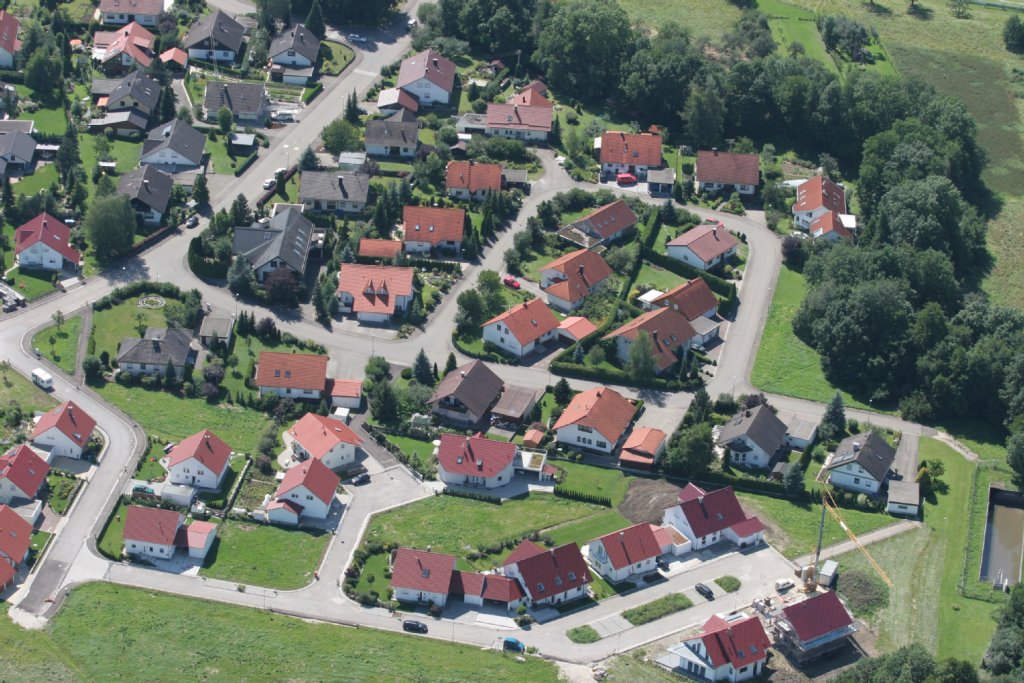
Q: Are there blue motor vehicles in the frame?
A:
Yes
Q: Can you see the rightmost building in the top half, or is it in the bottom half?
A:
bottom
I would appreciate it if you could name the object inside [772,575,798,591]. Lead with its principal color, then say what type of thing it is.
white vehicle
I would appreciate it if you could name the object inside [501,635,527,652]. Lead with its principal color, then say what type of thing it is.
blue vehicle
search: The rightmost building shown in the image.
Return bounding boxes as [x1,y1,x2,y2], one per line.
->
[888,481,920,516]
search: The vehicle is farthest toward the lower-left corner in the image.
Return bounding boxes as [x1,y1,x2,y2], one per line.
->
[130,482,157,496]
